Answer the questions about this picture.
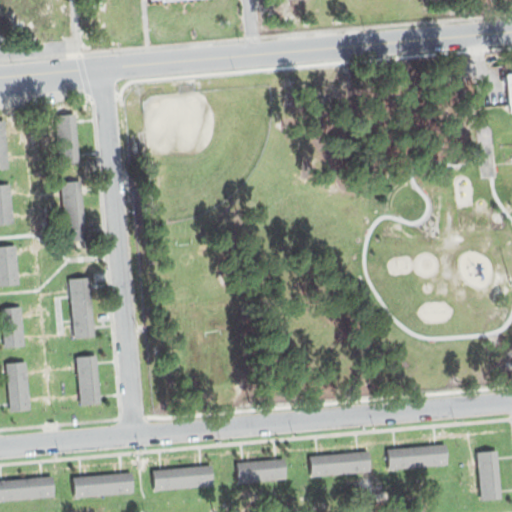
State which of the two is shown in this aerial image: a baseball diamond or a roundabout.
baseball diamond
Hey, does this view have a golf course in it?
No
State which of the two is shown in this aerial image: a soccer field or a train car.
soccer field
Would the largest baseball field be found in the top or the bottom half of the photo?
top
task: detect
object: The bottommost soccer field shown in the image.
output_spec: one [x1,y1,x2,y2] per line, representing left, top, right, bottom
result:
[171,244,225,334]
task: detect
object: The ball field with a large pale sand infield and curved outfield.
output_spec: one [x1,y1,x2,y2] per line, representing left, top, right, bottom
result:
[142,87,281,221]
